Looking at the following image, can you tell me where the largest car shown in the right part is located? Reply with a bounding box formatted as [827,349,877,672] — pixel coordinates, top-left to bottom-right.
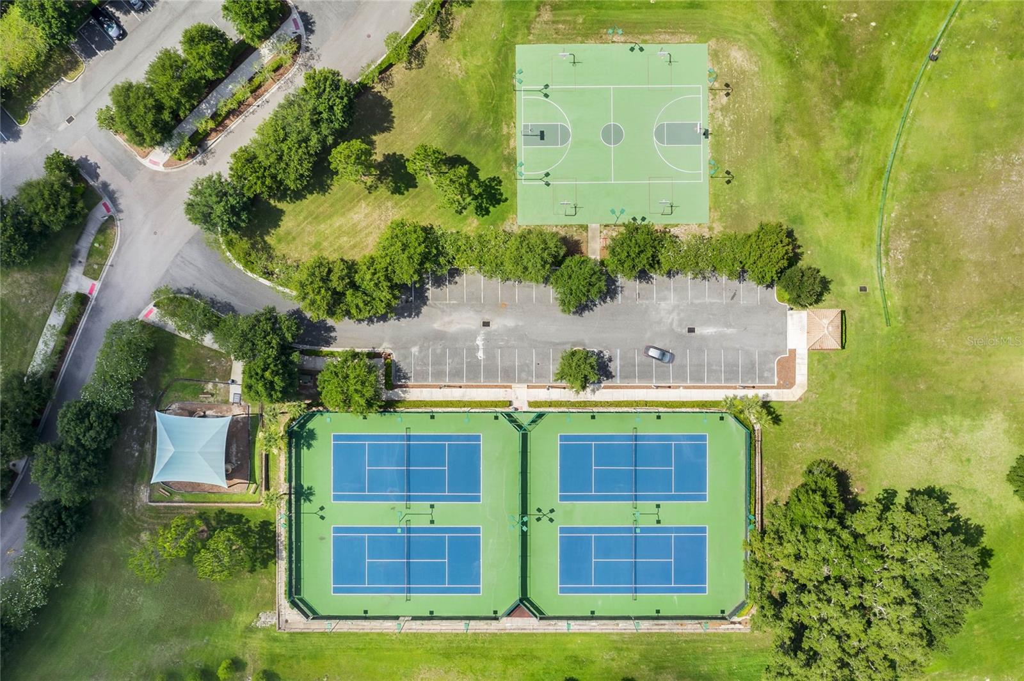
[644,346,675,363]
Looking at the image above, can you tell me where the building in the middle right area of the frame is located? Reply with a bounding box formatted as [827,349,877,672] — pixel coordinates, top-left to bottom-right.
[804,309,842,350]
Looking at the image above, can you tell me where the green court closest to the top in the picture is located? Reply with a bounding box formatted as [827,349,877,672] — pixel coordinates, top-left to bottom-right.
[516,43,709,225]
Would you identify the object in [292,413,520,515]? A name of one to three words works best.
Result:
tennis court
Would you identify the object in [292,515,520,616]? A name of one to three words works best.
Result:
tennis court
